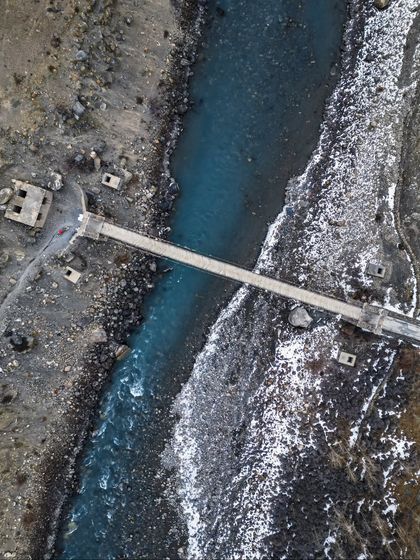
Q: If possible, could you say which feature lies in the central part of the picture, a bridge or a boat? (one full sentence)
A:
Visible in the central part of the picture is a bridge.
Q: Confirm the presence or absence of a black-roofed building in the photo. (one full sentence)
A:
No, there isn't any black-roofed building down there.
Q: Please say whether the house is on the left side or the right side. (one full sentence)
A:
The house is on the left side of the image.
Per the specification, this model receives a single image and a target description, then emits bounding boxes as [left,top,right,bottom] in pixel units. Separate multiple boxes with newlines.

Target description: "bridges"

[75,208,389,333]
